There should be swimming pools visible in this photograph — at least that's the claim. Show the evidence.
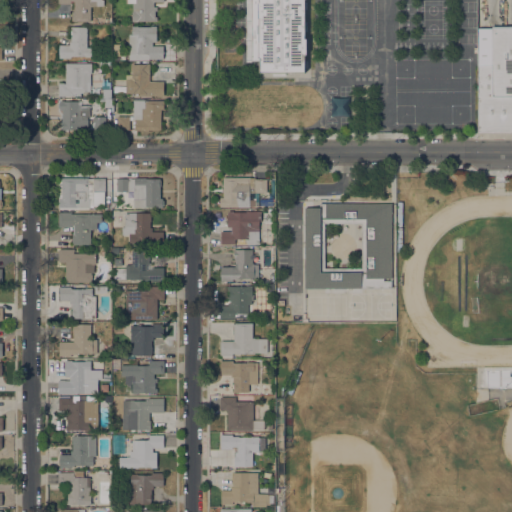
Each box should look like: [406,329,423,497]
[100,409,109,429]
[98,222,110,233]
[264,250,272,266]
[100,482,110,506]
[112,434,126,455]
[100,296,110,314]
[100,438,110,458]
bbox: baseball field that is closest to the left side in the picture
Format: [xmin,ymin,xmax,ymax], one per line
[311,434,398,512]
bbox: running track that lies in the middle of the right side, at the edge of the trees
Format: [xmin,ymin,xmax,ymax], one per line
[404,196,512,367]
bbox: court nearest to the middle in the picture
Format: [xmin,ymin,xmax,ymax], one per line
[306,289,394,320]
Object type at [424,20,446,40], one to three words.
basketball court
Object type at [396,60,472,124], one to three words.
sports court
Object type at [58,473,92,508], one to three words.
house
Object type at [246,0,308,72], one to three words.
building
